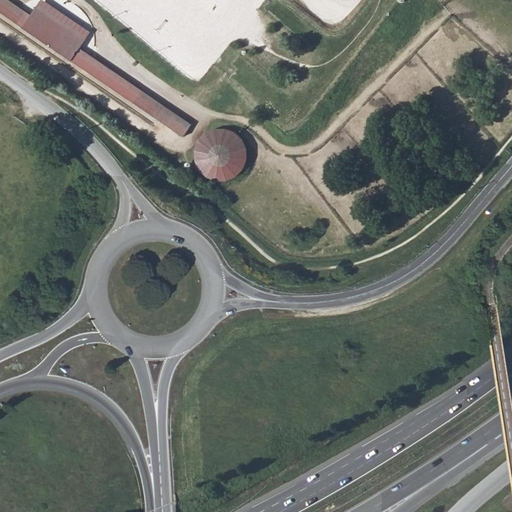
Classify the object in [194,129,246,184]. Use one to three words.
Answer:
building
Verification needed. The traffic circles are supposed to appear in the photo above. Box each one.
[82,216,228,359]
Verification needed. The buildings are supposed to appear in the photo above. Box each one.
[22,0,90,60]
[194,129,246,184]
[72,50,191,136]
